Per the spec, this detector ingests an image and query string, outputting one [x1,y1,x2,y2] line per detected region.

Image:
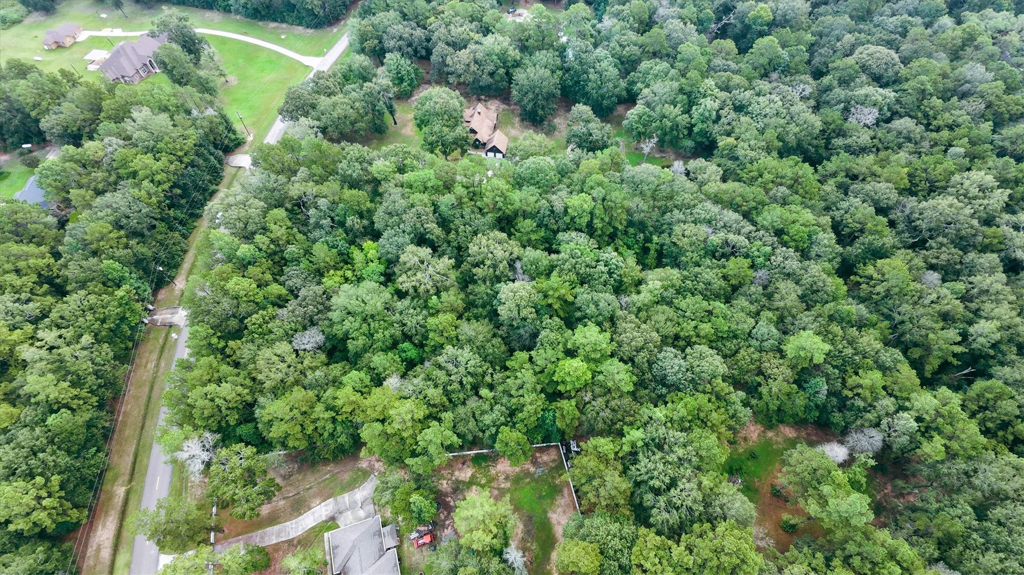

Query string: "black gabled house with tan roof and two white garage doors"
[464,103,508,159]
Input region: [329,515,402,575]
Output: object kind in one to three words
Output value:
house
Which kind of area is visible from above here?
forest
